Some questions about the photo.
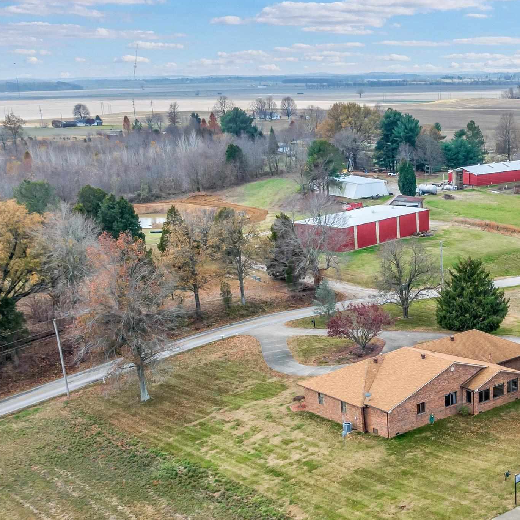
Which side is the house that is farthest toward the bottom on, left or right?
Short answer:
right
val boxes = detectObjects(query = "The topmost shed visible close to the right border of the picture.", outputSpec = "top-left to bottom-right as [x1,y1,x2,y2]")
[445,160,520,185]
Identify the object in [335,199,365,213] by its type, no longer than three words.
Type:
vehicle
